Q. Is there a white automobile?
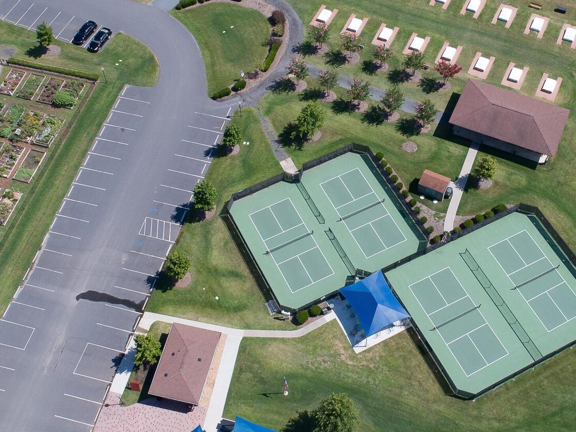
No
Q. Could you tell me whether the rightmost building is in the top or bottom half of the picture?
top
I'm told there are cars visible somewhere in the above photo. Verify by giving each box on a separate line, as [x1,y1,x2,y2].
[87,27,111,51]
[73,20,97,44]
